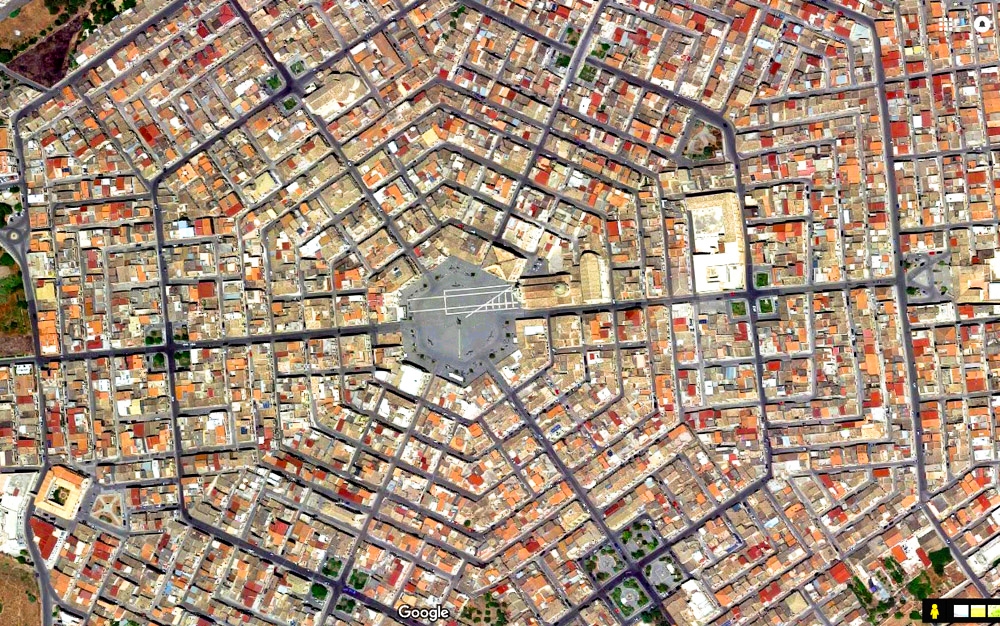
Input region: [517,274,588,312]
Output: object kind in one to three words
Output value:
building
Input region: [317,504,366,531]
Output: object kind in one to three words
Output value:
building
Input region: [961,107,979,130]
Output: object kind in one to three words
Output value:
house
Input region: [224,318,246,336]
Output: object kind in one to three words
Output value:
house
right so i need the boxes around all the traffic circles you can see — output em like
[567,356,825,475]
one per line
[0,216,28,256]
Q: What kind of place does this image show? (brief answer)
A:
residential area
